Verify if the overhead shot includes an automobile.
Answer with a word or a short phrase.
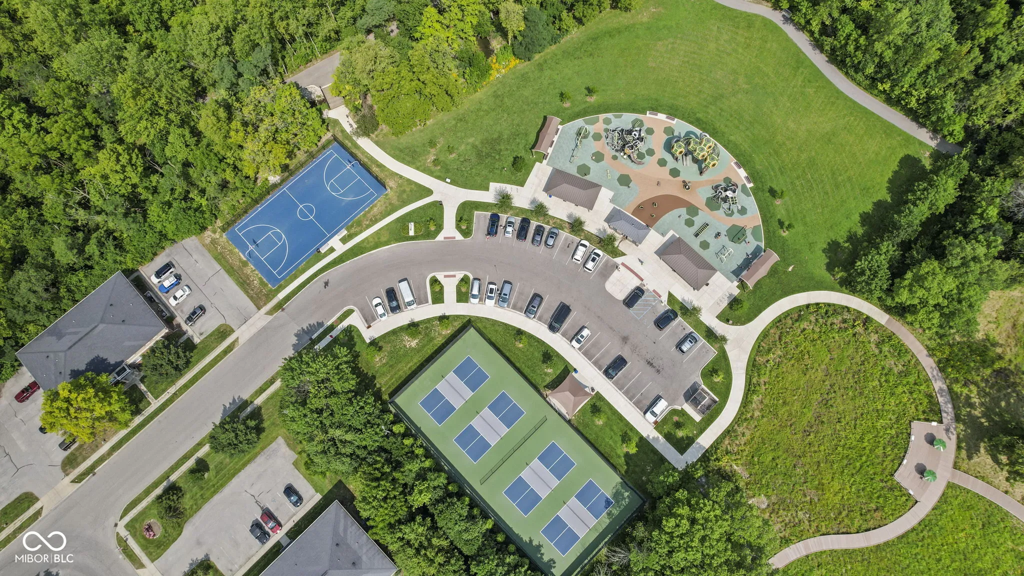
Yes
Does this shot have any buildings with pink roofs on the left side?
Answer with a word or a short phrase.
No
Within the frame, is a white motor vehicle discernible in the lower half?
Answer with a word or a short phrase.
Yes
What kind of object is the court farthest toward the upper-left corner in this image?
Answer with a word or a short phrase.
basketball court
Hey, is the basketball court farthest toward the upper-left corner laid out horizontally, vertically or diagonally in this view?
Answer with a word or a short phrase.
diagonally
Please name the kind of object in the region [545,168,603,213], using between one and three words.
building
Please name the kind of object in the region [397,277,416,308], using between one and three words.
vehicle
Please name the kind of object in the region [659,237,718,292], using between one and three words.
building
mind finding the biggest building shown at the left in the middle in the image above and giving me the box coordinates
[16,271,169,413]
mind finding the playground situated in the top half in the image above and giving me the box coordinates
[546,114,764,283]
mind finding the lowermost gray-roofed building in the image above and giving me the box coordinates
[259,500,398,576]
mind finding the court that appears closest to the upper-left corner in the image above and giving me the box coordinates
[224,142,387,288]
